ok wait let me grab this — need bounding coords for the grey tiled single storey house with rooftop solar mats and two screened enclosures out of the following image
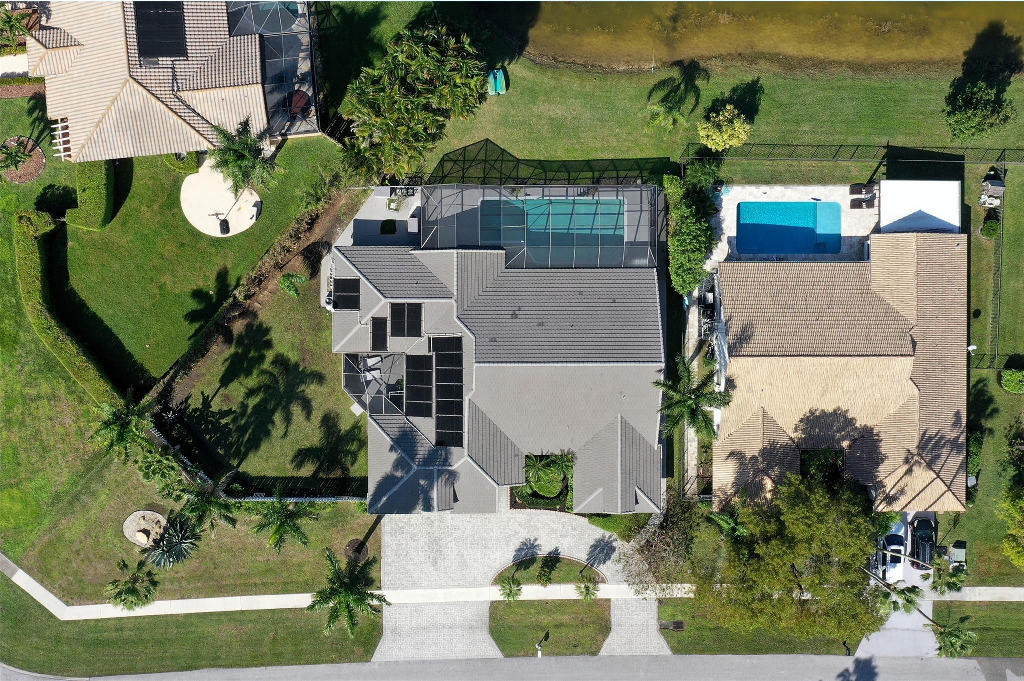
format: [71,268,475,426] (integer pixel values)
[331,244,666,515]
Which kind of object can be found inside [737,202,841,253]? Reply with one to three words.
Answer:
swimming pool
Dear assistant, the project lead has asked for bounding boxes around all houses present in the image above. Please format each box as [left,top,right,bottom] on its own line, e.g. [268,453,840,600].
[26,0,276,162]
[331,244,666,515]
[710,232,969,512]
